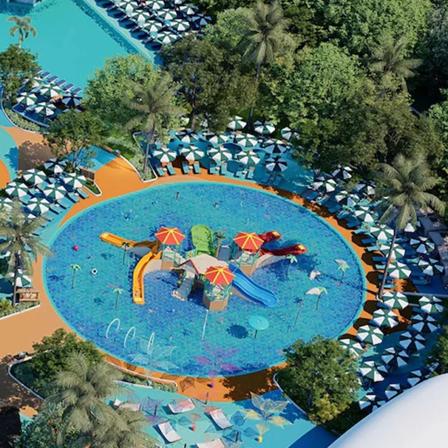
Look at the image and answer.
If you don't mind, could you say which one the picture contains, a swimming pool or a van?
swimming pool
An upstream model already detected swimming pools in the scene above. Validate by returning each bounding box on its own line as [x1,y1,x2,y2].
[0,0,160,91]
[47,182,363,374]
